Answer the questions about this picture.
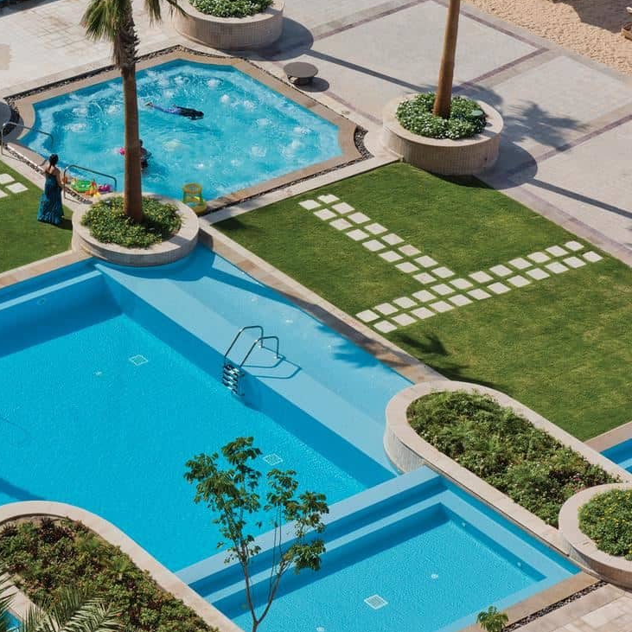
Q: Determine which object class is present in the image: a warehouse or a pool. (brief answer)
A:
pool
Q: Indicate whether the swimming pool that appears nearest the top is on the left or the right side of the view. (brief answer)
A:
left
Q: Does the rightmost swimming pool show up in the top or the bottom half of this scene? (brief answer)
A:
bottom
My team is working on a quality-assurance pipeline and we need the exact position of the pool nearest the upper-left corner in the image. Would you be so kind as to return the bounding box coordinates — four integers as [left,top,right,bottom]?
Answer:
[21,64,339,203]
